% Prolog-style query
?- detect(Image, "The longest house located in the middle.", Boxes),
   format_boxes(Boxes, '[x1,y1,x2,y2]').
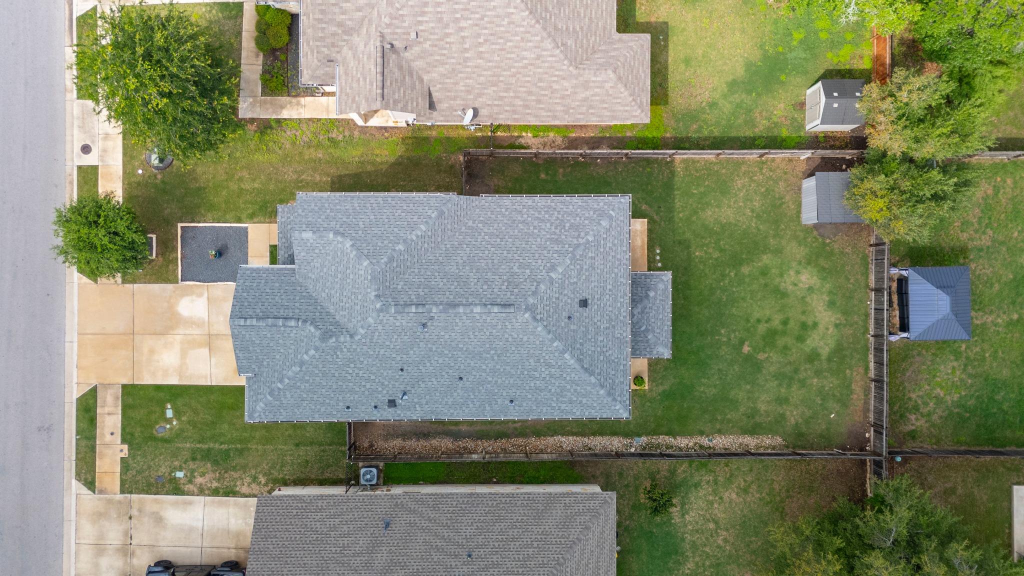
[229,191,673,422]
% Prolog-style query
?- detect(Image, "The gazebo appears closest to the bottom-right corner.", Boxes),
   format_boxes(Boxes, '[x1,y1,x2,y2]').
[882,265,973,341]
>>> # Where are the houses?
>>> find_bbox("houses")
[229,191,673,422]
[256,0,651,129]
[247,483,617,576]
